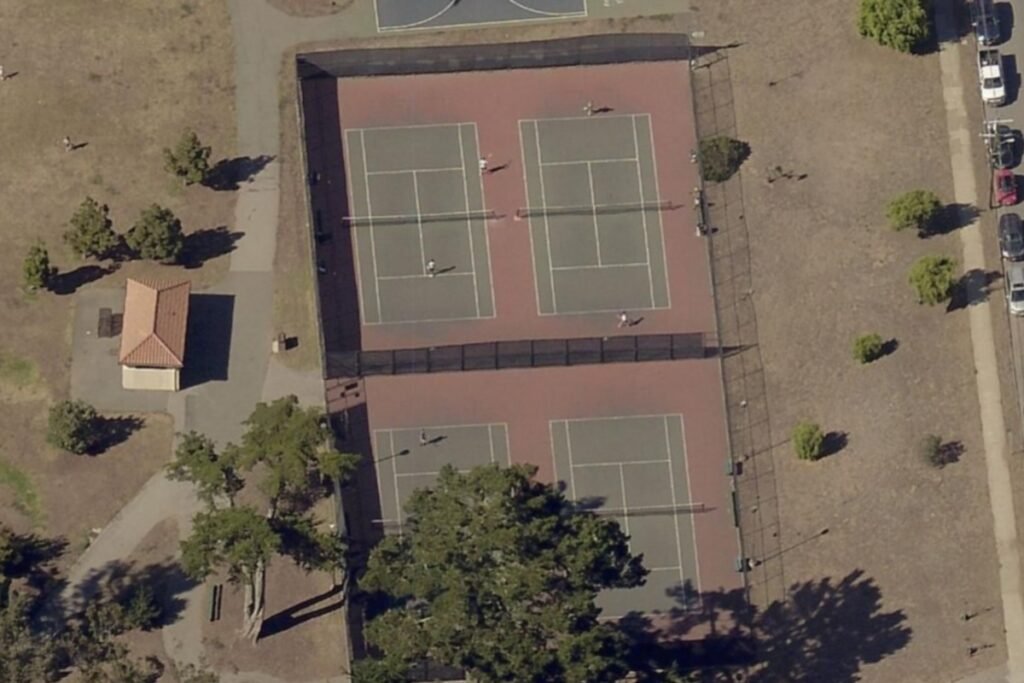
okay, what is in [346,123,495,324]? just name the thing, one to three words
tennis court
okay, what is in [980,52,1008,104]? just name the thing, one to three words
truck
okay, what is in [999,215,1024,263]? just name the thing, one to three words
car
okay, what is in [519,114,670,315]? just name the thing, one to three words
tennis court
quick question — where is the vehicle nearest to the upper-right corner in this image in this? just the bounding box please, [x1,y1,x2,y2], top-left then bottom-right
[973,0,999,43]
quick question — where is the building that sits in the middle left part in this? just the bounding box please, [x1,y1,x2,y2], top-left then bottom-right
[119,278,191,389]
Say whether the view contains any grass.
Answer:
Yes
